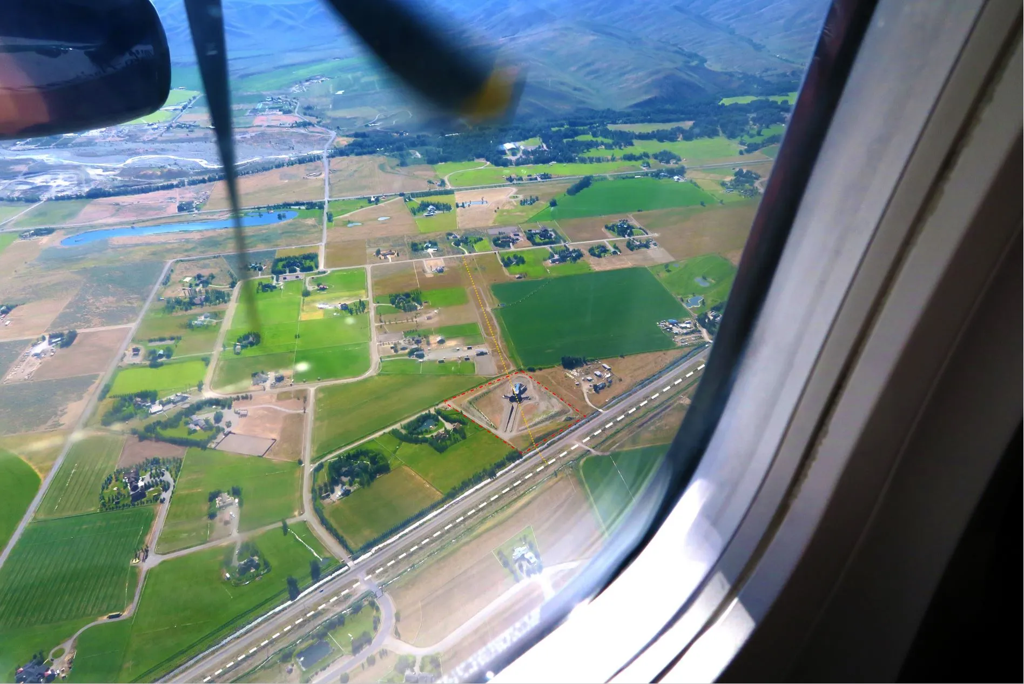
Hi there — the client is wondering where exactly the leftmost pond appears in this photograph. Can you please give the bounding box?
[61,210,298,246]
